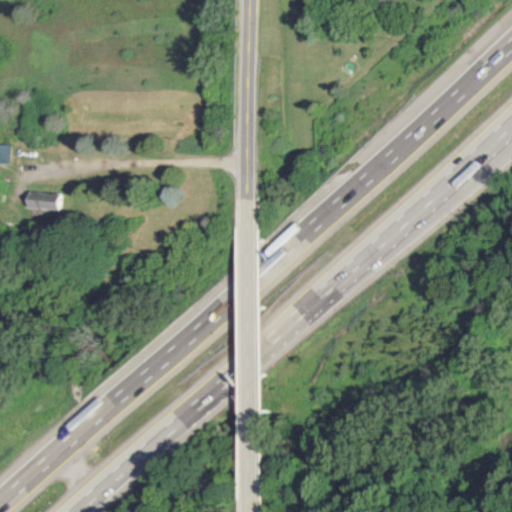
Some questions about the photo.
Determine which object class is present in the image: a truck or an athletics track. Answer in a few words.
truck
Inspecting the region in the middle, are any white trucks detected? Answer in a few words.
Yes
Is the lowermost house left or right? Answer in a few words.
left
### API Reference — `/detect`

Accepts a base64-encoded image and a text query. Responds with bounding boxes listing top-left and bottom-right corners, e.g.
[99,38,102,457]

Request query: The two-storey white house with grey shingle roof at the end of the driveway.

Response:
[27,192,64,213]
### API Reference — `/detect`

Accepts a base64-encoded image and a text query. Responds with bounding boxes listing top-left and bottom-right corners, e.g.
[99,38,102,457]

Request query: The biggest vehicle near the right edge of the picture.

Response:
[454,152,488,183]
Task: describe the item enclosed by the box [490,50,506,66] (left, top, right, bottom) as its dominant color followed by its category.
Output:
white vehicle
